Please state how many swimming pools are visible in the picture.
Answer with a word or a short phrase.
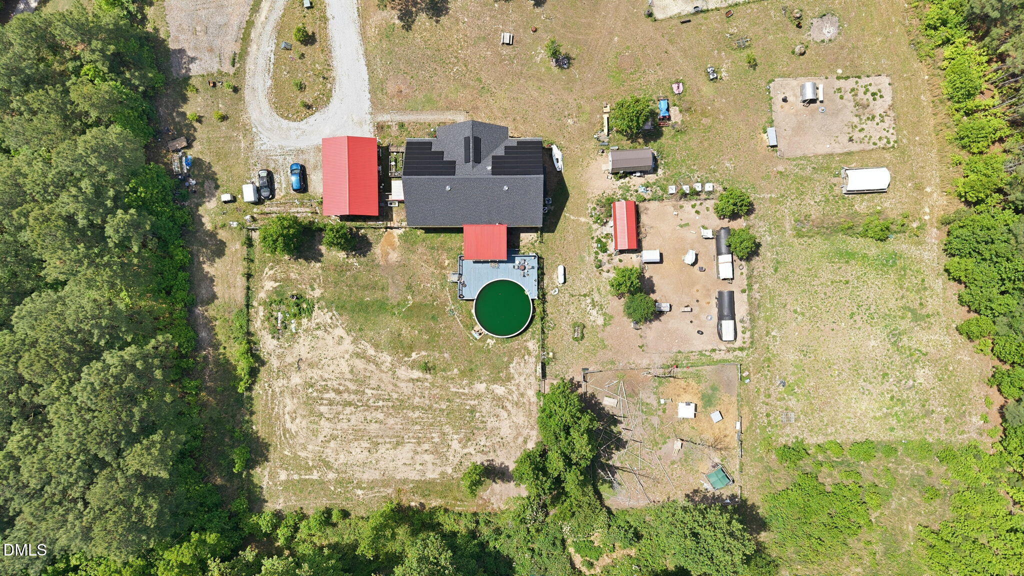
1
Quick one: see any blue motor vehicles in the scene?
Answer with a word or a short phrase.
Yes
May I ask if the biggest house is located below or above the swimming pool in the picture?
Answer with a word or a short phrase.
above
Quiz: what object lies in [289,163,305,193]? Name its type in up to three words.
car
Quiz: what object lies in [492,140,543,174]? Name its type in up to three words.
solar array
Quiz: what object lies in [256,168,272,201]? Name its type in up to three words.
car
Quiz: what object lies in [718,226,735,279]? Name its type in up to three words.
house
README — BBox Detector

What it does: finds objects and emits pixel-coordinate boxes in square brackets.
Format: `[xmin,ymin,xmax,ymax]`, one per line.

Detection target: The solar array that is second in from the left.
[466,136,480,164]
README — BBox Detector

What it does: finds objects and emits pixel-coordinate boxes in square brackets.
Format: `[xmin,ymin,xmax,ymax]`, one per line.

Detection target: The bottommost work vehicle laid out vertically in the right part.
[657,92,672,125]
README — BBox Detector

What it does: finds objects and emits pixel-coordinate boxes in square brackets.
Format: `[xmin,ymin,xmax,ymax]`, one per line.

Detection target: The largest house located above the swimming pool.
[402,121,544,227]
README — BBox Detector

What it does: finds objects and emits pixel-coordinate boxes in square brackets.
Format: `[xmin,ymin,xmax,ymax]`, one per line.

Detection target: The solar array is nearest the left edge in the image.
[403,141,455,174]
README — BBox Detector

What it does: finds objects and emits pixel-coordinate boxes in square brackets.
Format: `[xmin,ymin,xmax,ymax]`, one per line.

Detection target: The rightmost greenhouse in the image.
[843,167,897,193]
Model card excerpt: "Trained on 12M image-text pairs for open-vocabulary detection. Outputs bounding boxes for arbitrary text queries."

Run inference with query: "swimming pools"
[473,278,533,339]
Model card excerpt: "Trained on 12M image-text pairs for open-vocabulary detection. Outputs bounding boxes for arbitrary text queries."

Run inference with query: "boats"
[553,145,566,172]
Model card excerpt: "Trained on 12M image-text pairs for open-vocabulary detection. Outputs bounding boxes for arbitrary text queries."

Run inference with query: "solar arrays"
[403,141,455,174]
[466,136,480,164]
[492,140,543,174]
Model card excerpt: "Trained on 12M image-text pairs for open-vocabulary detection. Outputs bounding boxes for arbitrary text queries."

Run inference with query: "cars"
[256,168,272,201]
[289,163,305,193]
